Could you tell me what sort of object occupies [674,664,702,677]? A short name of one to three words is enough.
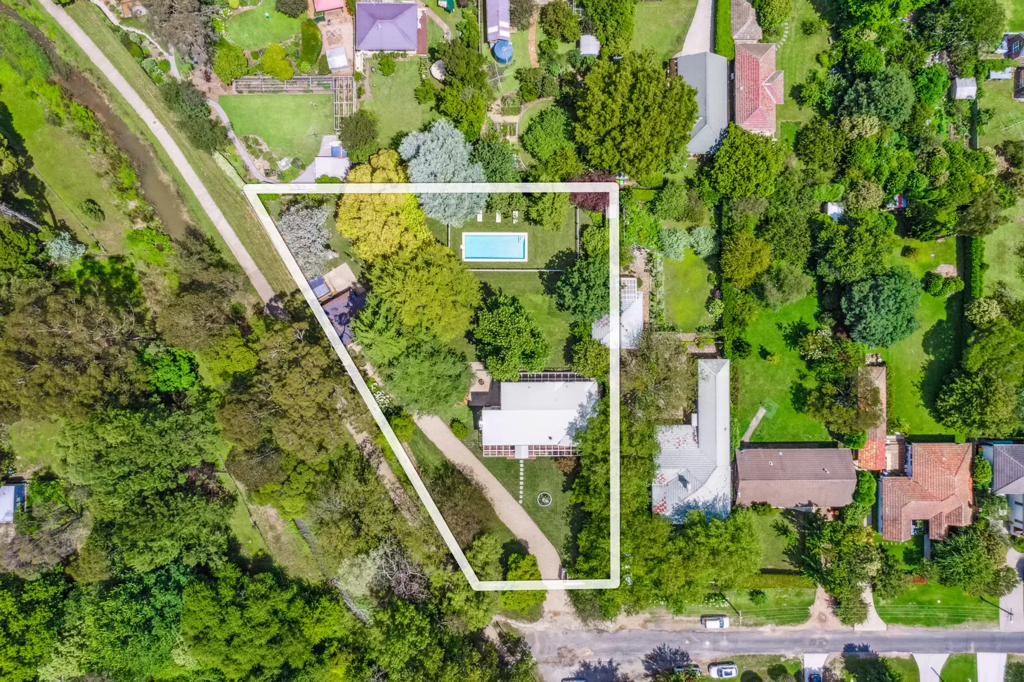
vehicle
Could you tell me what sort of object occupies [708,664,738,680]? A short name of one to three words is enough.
car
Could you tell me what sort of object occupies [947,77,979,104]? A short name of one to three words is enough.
shed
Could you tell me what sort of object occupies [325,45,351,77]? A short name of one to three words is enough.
shed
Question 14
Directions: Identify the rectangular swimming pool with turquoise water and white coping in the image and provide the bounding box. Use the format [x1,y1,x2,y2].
[459,232,528,262]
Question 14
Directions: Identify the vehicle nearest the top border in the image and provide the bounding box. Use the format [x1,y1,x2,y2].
[700,616,730,631]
